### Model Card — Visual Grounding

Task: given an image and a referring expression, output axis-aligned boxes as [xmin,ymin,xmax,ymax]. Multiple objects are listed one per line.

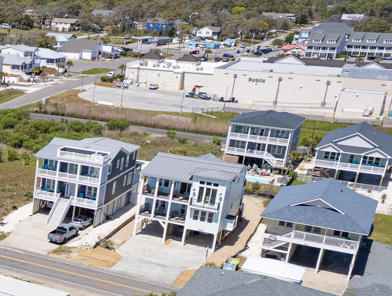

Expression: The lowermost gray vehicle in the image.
[44,222,83,241]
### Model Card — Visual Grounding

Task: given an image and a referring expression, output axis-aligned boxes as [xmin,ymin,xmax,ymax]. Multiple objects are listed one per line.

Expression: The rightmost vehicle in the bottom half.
[67,211,94,227]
